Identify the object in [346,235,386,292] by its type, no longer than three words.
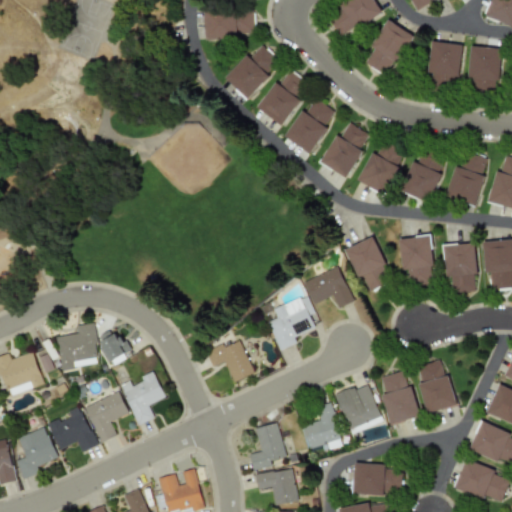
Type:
house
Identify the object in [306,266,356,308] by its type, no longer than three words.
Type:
house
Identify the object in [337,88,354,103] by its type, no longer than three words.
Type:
vehicle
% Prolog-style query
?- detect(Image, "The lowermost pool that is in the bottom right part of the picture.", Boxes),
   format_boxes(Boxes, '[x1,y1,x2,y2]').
[364,424,389,442]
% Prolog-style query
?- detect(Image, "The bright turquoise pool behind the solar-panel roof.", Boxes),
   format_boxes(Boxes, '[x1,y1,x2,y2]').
[283,284,304,304]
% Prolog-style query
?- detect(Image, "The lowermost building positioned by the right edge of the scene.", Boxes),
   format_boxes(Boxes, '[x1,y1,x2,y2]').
[456,460,510,502]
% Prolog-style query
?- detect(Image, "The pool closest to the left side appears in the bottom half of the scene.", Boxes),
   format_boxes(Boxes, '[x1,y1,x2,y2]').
[14,394,34,412]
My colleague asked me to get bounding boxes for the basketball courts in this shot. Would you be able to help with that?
[58,0,114,57]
